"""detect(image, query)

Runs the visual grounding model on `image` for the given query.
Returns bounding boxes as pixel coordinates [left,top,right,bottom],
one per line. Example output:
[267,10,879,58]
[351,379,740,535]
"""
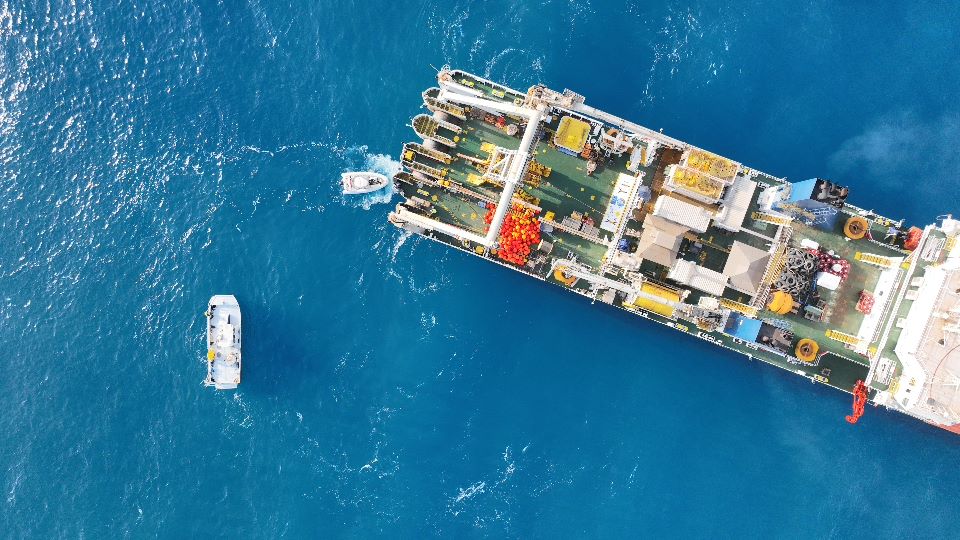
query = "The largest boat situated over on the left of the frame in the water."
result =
[204,295,243,390]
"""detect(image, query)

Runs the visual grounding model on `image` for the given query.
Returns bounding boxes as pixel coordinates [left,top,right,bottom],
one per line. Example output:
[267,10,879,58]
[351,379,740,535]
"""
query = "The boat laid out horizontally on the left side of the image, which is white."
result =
[337,171,389,195]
